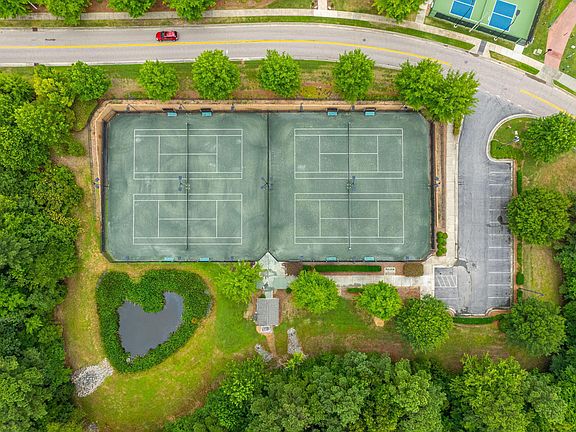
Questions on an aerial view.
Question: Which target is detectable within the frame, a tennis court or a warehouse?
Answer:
tennis court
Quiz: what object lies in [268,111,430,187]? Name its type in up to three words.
tennis court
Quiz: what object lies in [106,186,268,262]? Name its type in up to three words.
tennis court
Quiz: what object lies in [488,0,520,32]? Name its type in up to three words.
sports court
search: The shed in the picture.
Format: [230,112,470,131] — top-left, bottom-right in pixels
[257,298,280,326]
